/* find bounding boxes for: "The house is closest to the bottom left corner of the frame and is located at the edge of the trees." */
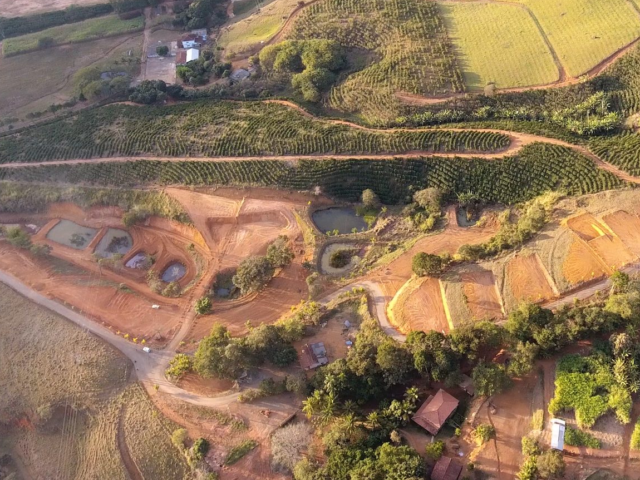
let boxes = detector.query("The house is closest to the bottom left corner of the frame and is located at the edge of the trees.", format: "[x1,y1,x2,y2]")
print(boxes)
[297,340,329,369]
